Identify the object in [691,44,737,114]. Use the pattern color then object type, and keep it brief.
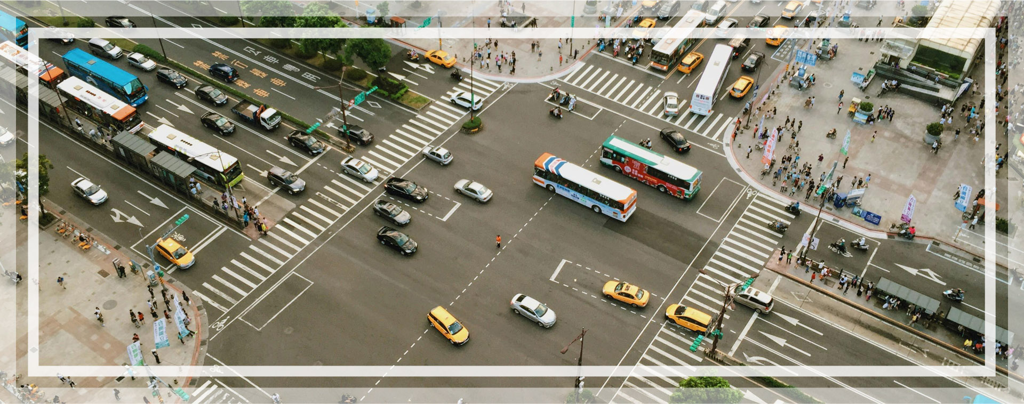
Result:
white bus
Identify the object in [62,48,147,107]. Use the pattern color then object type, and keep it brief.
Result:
blue bus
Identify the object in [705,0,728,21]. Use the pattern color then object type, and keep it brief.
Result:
white car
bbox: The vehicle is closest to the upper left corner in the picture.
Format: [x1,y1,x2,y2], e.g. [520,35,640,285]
[0,14,37,52]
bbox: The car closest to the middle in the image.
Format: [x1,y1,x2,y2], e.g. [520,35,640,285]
[452,181,495,205]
